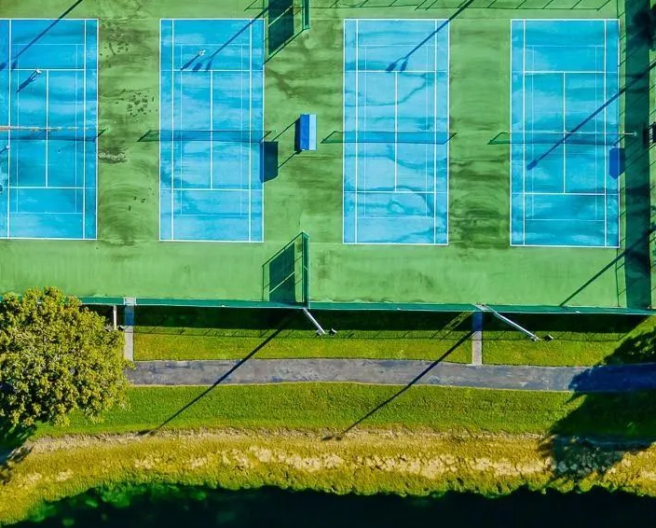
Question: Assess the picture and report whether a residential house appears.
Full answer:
No, the scene contains no residential house.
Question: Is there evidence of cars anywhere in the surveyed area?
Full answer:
No, the frame has no car in it.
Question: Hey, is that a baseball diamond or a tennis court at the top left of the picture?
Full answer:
There is a tennis court at the top left of the picture.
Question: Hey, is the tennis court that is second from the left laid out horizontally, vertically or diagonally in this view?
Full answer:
From this overhead view, the tennis court that is second from the left appears to run vertically.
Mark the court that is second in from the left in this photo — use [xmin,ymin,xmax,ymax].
[159,19,265,243]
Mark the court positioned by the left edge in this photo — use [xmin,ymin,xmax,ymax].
[0,19,98,241]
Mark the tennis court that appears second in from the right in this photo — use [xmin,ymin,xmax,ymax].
[344,19,450,245]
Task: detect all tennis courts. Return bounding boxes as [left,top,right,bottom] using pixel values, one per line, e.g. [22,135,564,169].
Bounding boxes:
[344,19,450,245]
[0,19,98,241]
[159,19,265,243]
[511,19,620,248]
